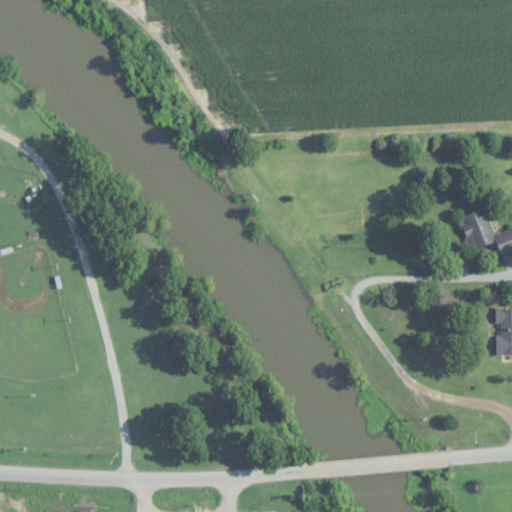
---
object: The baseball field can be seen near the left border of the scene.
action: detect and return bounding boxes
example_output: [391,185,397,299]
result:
[0,248,75,380]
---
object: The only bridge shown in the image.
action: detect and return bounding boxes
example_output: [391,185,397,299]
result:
[303,452,448,476]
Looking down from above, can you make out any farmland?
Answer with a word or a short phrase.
Yes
